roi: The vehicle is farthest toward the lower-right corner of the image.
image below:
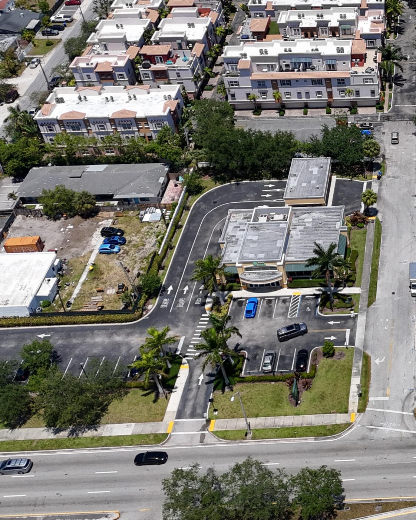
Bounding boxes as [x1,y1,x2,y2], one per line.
[293,350,310,371]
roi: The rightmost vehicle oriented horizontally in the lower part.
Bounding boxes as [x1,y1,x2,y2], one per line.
[277,322,311,341]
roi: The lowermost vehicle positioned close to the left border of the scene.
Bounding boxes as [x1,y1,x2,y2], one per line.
[0,458,34,475]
